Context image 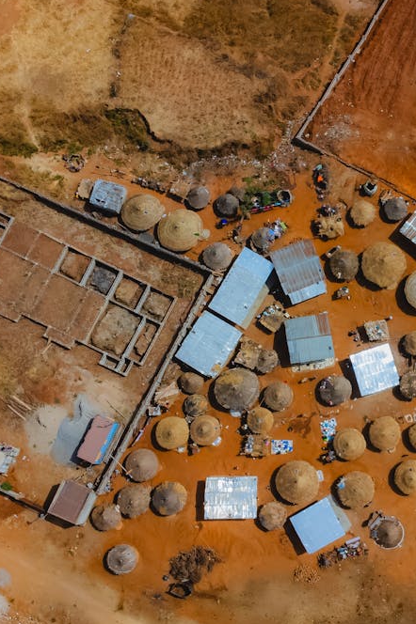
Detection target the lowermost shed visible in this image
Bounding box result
[103,541,137,573]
